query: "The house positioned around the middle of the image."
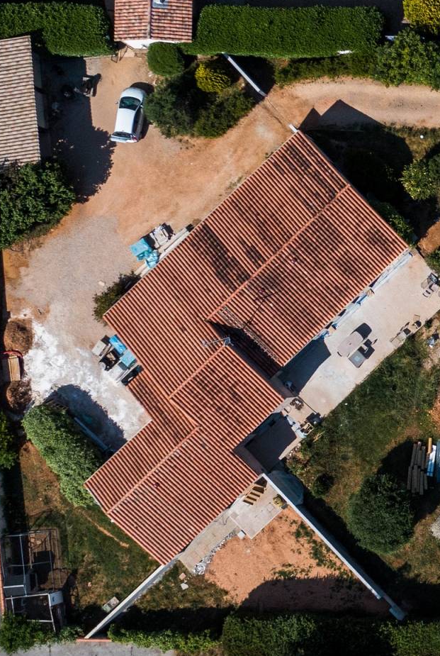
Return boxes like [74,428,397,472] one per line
[75,123,412,570]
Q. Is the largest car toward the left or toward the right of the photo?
left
